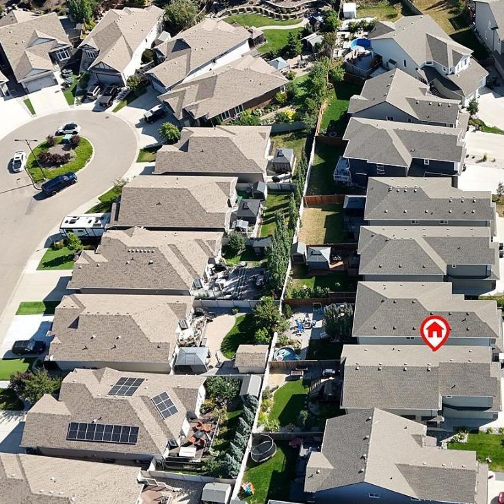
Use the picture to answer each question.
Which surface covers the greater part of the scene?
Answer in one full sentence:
The scene is dominated by buildings.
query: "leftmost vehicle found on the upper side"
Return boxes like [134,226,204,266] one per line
[12,152,28,173]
